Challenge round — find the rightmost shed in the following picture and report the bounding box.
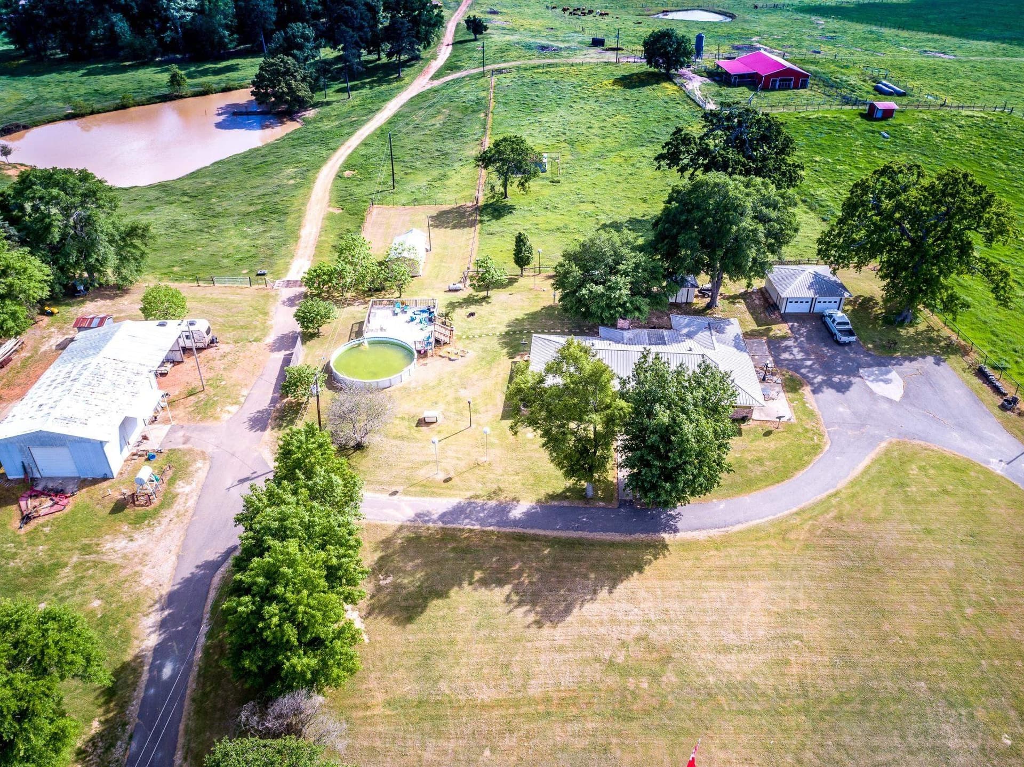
[868,104,903,118]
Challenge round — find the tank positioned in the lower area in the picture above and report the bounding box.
[129,467,159,501]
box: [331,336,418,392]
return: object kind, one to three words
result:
swimming pool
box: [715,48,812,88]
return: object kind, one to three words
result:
barn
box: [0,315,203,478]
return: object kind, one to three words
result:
barn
